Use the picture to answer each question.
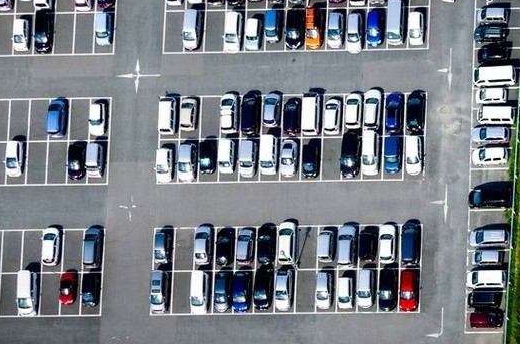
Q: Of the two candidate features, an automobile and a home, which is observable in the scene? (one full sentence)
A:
Looking from above, you can make out an automobile.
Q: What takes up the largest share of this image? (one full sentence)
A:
The bulk of the photo consists of paved ground.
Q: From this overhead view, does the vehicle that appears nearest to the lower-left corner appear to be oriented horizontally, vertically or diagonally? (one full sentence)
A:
The vehicle that appears nearest to the lower-left corner is oriented vertically.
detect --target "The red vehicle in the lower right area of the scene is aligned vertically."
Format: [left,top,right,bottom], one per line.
[399,271,418,312]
